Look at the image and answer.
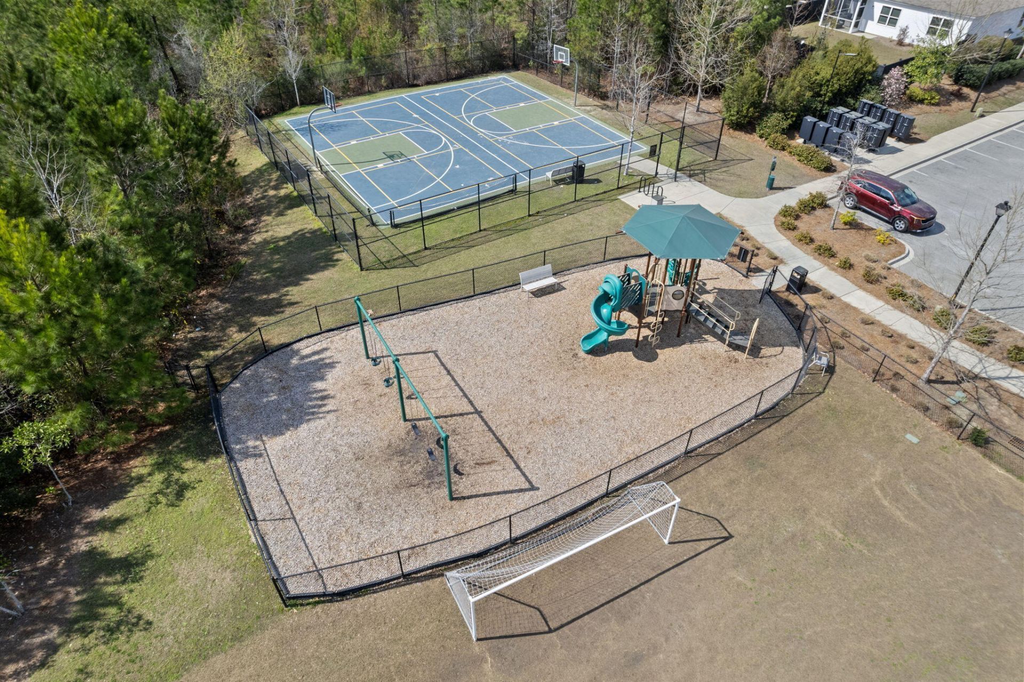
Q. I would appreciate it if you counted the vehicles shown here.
1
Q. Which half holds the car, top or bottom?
top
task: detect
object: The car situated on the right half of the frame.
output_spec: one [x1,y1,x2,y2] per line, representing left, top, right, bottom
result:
[837,166,941,232]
